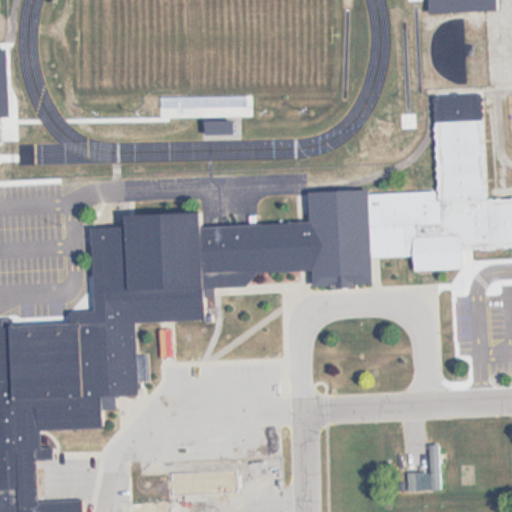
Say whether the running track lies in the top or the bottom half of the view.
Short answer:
top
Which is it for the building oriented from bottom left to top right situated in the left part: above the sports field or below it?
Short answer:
below it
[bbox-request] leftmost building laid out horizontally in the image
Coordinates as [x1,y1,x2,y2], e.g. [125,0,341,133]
[204,119,233,134]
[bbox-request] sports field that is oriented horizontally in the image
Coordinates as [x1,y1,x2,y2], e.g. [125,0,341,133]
[75,0,345,94]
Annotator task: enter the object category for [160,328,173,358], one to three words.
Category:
shed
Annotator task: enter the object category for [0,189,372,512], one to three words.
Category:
building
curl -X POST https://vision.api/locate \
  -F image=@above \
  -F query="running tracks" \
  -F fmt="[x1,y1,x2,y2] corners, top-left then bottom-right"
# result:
[20,0,390,166]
